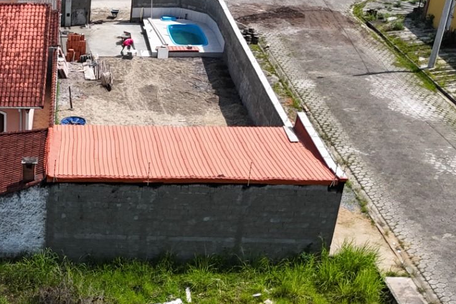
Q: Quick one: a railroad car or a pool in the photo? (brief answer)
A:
pool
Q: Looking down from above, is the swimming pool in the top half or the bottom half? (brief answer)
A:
top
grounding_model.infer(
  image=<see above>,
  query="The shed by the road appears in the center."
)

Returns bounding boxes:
[44,106,354,250]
